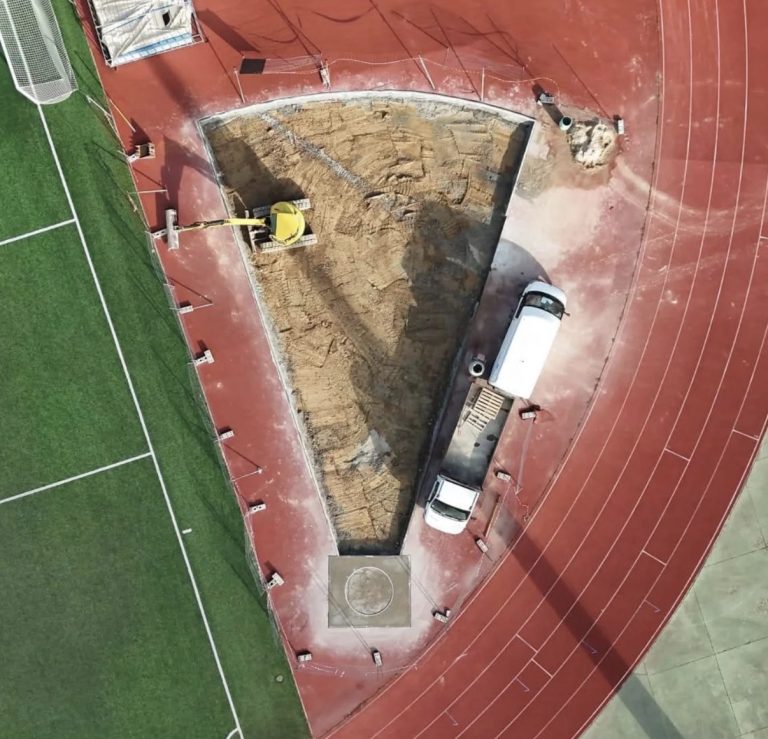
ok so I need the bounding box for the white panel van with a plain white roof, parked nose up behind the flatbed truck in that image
[484,284,566,403]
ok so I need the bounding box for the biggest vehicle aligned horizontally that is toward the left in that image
[166,197,317,253]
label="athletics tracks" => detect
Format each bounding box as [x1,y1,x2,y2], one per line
[315,0,768,739]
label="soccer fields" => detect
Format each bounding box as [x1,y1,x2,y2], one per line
[0,0,315,739]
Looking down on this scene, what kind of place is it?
sports ground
